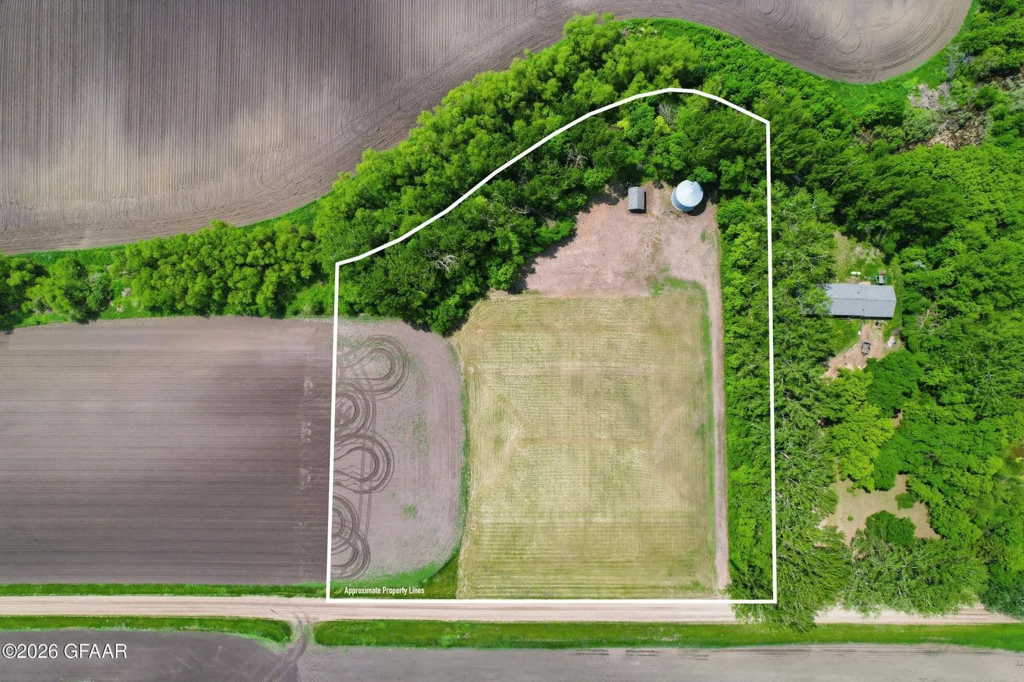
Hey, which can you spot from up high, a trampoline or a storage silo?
storage silo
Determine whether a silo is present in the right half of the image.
Yes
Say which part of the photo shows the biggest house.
right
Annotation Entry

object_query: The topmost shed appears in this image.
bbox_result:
[627,187,644,212]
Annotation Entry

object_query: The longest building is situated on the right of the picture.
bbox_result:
[819,281,896,323]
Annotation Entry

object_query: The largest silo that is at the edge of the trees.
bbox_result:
[671,180,704,212]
